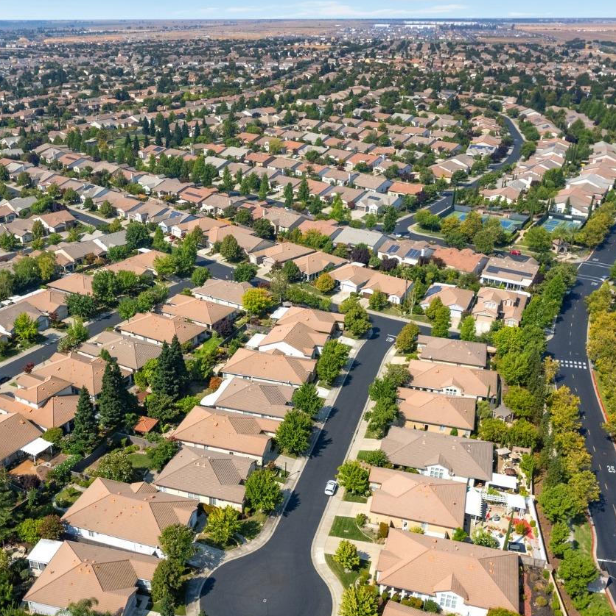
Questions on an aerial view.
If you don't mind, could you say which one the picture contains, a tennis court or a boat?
tennis court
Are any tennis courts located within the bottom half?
No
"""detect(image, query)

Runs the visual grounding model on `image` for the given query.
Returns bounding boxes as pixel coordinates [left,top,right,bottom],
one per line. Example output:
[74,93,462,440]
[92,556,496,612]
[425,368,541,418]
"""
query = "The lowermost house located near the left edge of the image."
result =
[6,542,159,616]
